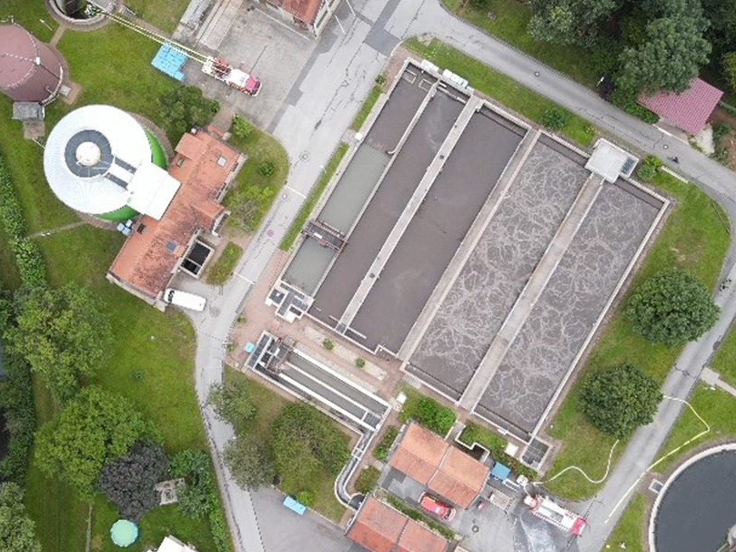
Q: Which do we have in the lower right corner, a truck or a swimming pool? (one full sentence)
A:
The one visible in the lower right corner is a truck.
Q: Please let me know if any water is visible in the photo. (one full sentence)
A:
Yes, there is water in the image.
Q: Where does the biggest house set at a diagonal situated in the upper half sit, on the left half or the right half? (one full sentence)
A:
It is on the left.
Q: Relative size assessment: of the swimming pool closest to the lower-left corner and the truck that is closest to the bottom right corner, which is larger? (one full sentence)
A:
The larger object is the truck, with the swimming pool being the smaller of the pair.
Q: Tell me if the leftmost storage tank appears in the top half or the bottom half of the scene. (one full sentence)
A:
You can find the leftmost storage tank in the top half.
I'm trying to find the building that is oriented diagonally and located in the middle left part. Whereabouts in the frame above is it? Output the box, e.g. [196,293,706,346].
[107,130,243,310]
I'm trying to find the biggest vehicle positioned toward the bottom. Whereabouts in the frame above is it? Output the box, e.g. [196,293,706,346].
[519,491,594,543]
